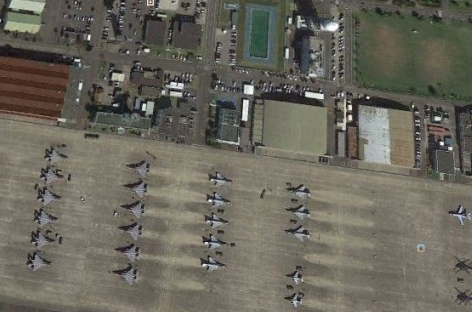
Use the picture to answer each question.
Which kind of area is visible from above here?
airport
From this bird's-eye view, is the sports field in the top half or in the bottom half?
top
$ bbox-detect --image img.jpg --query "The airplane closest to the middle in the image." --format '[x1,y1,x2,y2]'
[209,173,227,187]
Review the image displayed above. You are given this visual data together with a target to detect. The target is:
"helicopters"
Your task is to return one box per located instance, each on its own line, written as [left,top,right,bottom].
[459,290,472,305]
[457,260,472,274]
